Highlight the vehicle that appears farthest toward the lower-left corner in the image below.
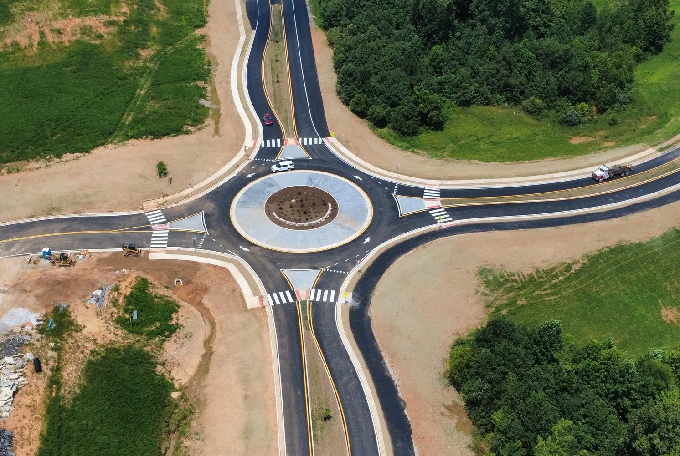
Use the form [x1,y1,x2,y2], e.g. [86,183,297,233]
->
[46,250,78,268]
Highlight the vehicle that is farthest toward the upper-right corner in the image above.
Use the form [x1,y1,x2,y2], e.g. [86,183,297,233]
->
[590,161,637,181]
